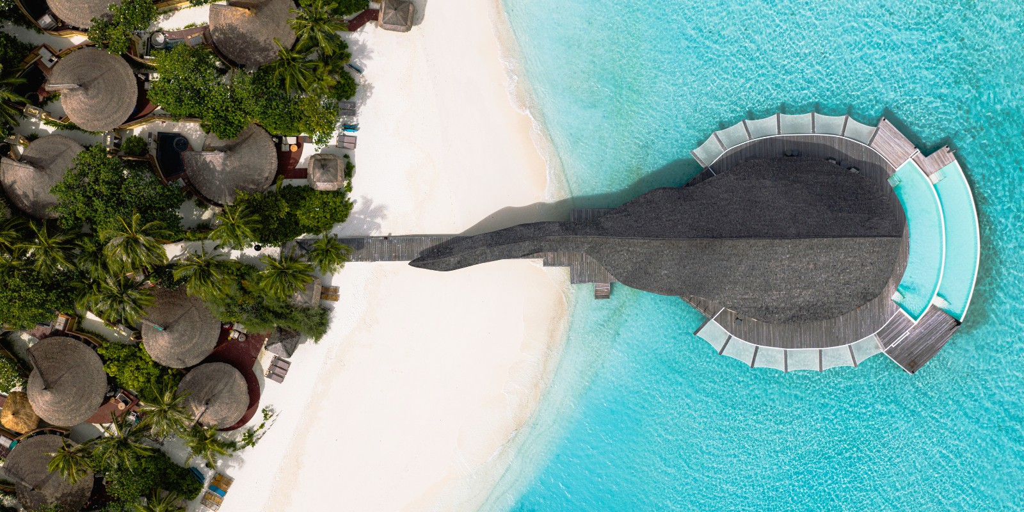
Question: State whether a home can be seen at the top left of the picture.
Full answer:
Yes, at the top left of the picture there is a home.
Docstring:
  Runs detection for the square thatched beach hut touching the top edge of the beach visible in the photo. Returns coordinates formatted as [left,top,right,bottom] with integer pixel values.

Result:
[377,0,416,31]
